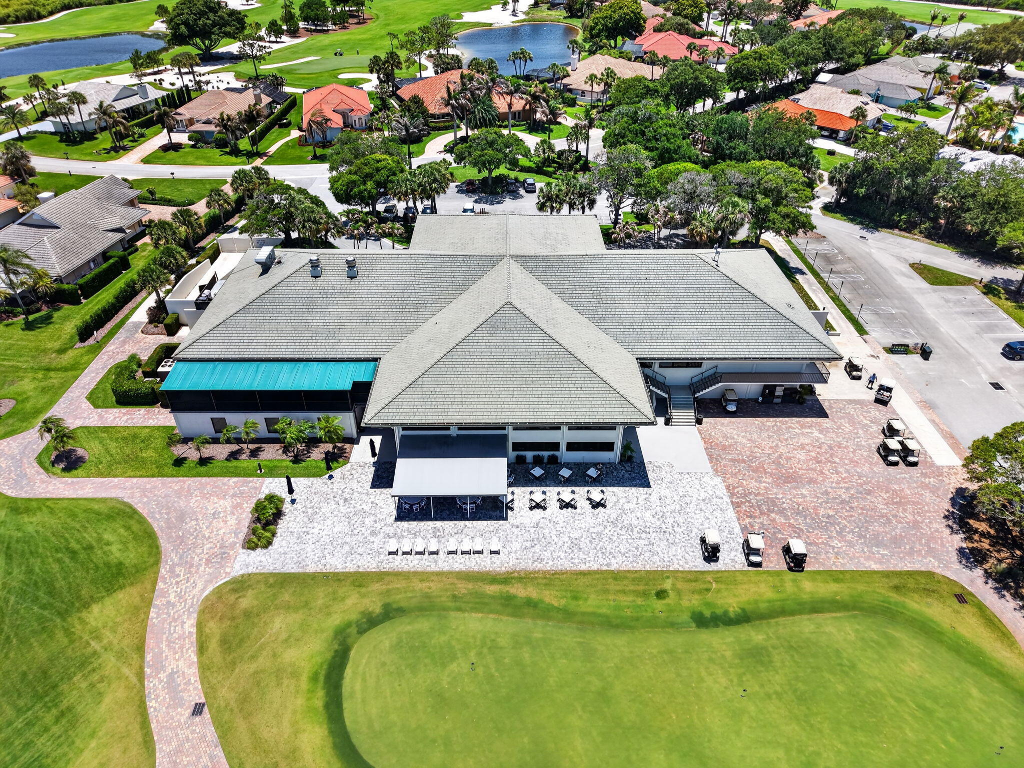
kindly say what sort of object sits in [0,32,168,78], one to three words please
pond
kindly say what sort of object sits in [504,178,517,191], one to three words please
vehicle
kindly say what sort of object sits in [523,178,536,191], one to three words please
vehicle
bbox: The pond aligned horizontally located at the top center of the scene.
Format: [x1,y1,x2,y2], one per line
[455,21,580,80]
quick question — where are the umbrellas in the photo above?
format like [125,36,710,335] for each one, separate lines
[324,452,333,478]
[370,439,379,464]
[285,475,296,502]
